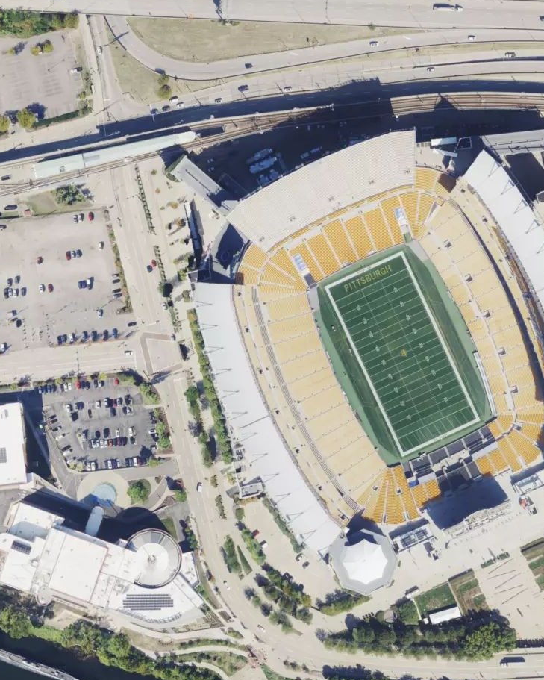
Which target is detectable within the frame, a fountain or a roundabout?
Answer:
fountain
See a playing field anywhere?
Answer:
Yes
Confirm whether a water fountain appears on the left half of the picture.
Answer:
Yes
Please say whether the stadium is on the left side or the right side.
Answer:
right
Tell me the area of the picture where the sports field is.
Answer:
right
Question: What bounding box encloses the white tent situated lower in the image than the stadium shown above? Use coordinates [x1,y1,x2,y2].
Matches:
[430,607,461,624]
